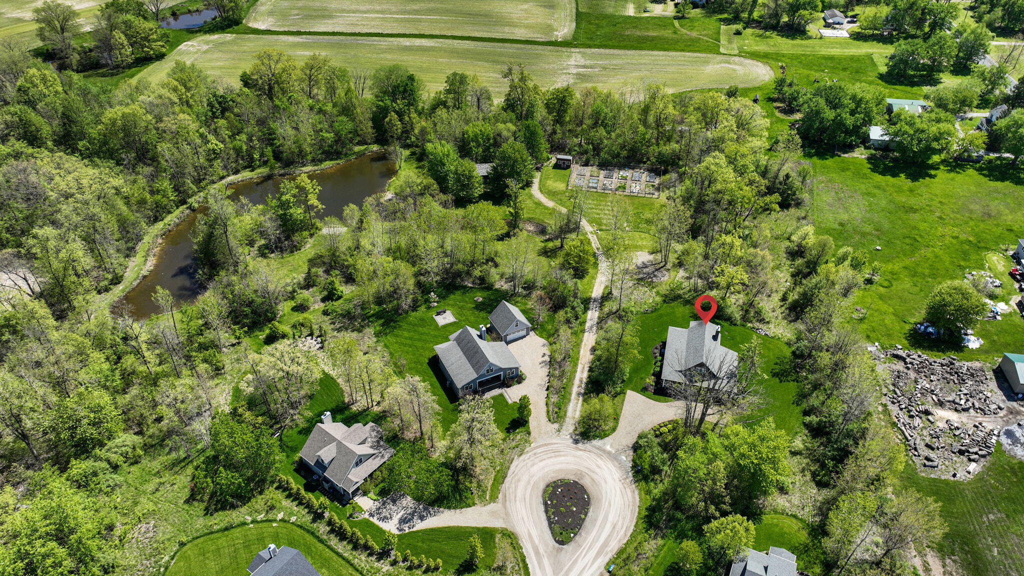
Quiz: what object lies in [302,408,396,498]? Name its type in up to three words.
house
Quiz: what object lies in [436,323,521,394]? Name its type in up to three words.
house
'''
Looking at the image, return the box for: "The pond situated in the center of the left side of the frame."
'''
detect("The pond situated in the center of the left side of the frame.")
[107,150,397,319]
